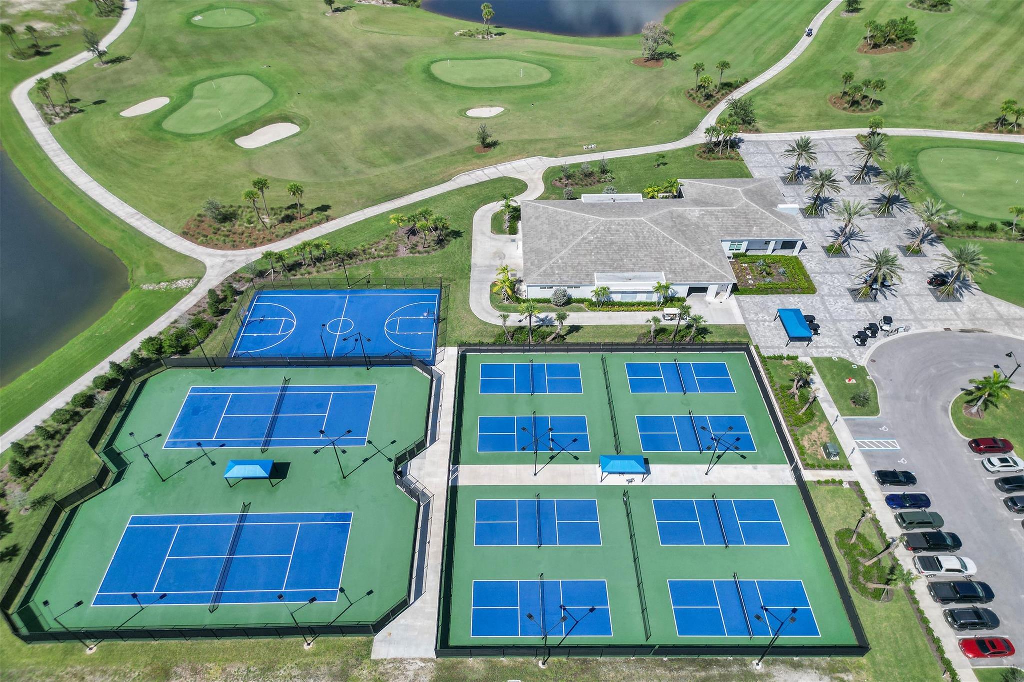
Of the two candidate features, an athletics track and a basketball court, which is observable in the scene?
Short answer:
basketball court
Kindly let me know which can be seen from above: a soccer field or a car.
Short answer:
car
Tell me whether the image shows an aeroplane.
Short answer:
No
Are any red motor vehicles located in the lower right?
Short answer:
Yes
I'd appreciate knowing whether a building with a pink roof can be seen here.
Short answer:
No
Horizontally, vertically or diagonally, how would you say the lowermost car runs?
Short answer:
horizontally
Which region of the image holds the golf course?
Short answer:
top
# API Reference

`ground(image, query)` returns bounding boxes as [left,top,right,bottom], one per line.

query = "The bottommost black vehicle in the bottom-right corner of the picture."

[943,604,1005,630]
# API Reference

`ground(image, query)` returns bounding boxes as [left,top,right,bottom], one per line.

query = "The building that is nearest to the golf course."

[521,177,808,301]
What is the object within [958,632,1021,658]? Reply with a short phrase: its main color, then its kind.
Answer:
red car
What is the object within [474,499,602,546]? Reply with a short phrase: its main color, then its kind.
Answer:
blue sports court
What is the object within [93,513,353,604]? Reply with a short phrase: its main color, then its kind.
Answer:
blue tennis court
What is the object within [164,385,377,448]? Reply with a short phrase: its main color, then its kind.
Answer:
blue tennis court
